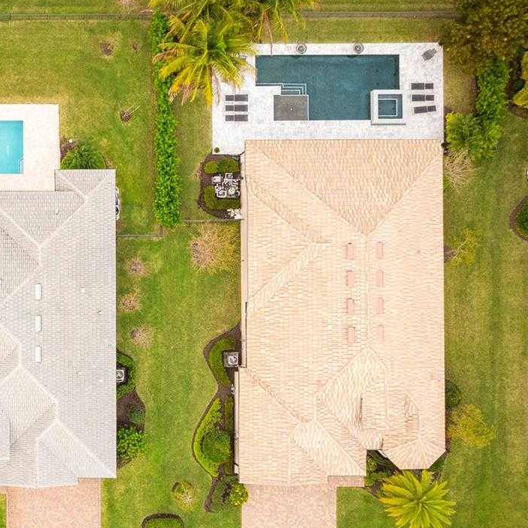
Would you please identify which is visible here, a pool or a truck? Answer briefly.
pool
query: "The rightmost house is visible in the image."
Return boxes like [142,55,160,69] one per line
[233,138,446,489]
